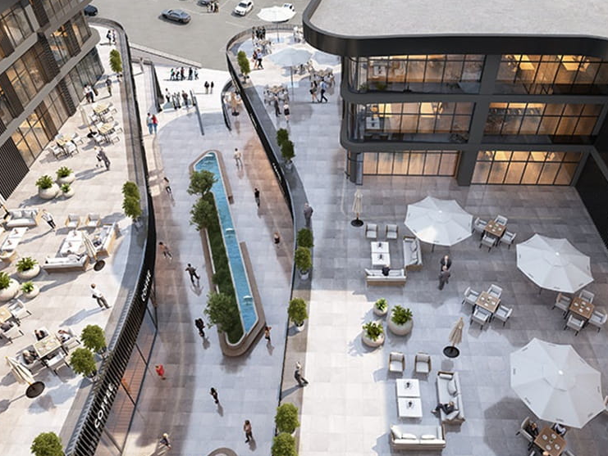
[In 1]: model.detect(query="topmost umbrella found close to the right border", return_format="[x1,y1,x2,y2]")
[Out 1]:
[513,238,593,300]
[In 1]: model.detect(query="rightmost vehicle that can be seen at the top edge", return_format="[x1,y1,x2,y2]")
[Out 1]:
[278,0,301,13]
